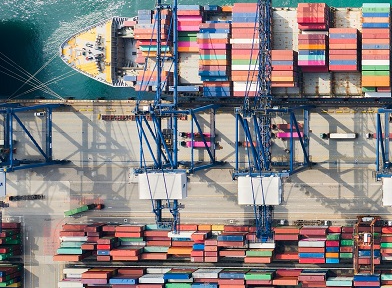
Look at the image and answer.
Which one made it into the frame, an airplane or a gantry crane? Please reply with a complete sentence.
This aerial view contains a gantry crane.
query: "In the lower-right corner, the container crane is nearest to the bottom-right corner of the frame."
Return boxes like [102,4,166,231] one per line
[353,211,385,275]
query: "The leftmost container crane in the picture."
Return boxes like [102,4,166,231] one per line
[0,103,76,200]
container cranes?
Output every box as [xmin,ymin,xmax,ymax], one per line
[353,211,385,275]
[0,103,76,200]
[231,0,319,242]
[373,104,392,208]
[129,0,232,231]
